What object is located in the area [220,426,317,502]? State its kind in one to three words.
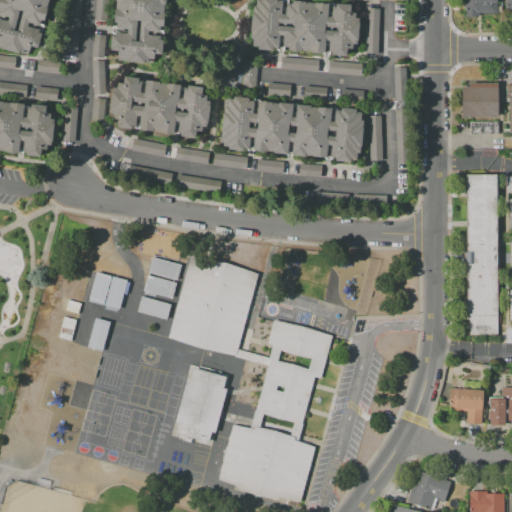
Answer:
building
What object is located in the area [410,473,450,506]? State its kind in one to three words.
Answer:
house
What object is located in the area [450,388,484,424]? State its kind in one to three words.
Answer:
house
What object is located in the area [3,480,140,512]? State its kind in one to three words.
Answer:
baseball field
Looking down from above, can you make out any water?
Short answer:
No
